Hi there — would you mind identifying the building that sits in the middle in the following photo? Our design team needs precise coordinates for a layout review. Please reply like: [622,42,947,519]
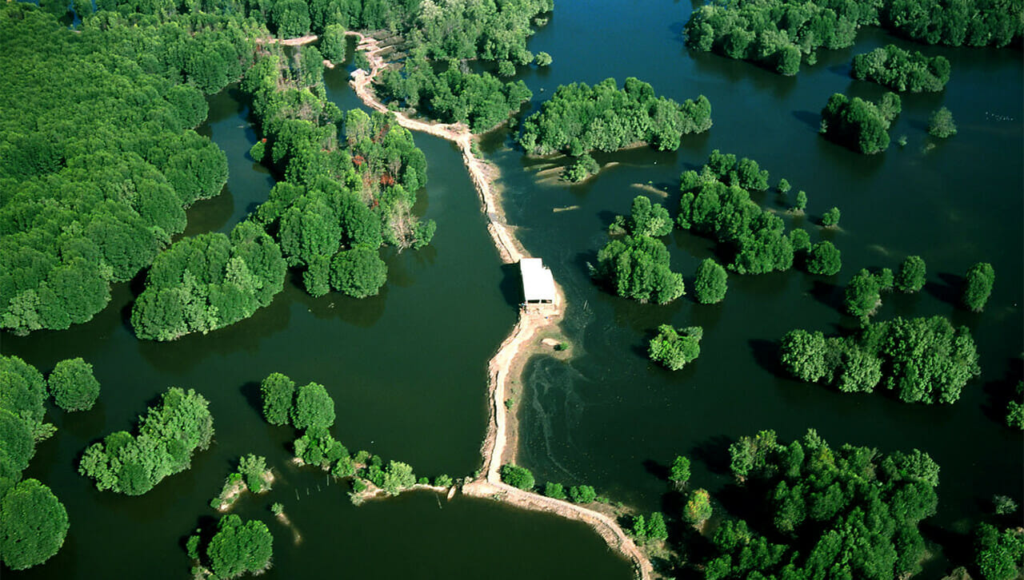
[520,257,555,314]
